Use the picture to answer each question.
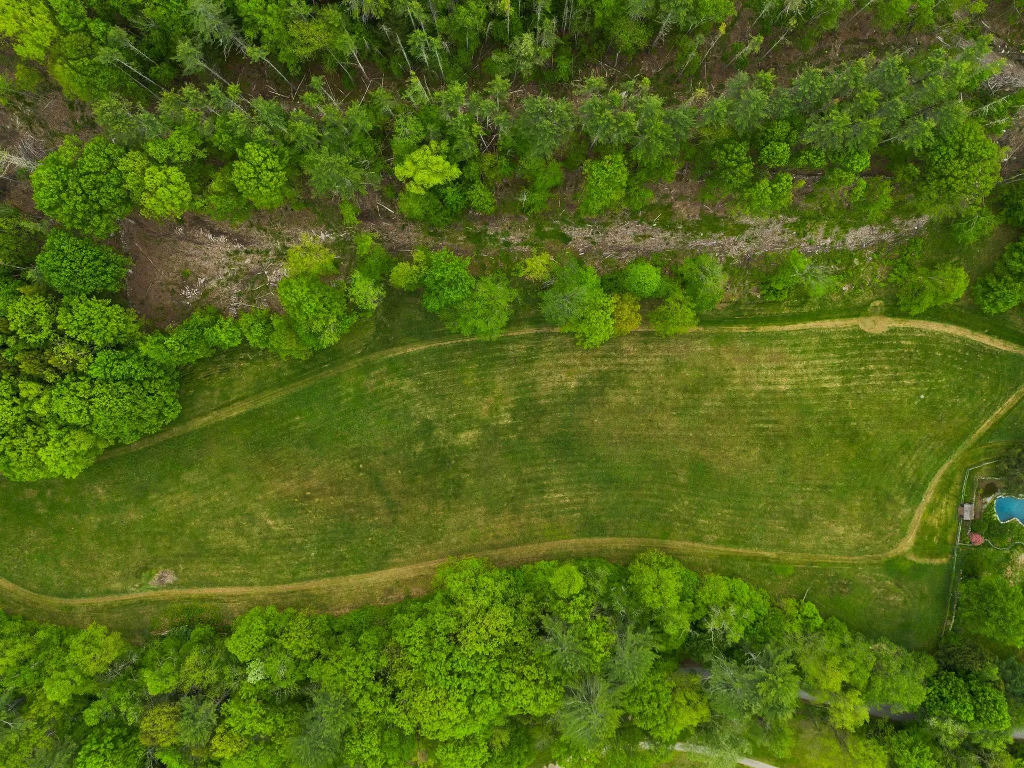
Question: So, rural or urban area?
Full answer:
This place is rural.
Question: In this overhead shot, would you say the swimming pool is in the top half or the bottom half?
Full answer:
Seen from above, the swimming pool lies in the bottom half of the view.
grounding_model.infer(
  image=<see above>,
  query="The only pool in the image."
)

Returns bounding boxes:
[994,495,1024,526]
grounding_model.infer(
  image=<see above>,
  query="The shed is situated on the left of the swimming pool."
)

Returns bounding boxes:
[958,505,979,523]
